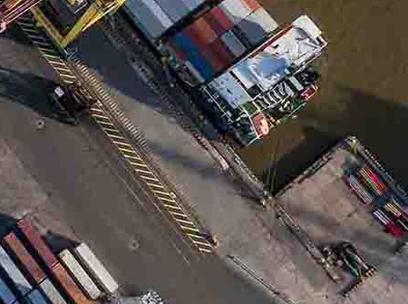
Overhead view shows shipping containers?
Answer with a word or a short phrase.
Yes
